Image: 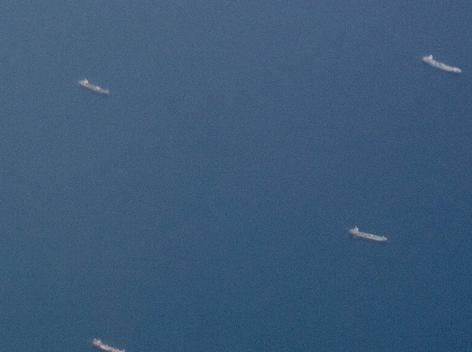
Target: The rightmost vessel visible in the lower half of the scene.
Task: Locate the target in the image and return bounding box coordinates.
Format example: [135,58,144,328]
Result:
[349,228,387,241]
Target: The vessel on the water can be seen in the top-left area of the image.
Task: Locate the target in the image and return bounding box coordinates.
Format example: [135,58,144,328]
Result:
[77,79,109,94]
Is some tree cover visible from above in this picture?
No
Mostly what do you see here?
water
